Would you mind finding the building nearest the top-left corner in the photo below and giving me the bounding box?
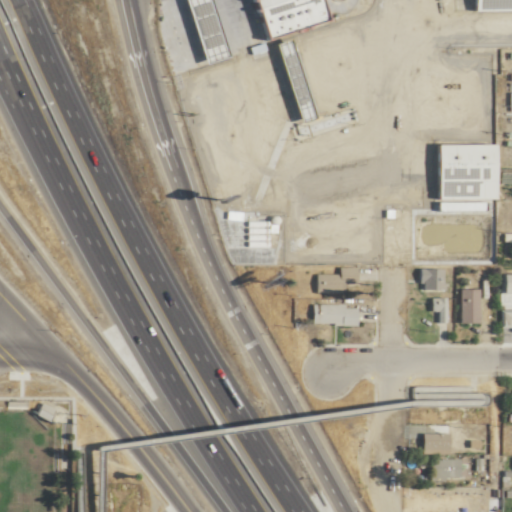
[190,0,231,64]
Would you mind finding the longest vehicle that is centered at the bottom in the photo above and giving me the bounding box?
[215,367,241,407]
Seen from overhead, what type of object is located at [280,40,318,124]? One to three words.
building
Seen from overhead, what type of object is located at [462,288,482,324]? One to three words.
house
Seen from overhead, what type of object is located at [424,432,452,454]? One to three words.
house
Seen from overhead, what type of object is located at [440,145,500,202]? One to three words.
building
